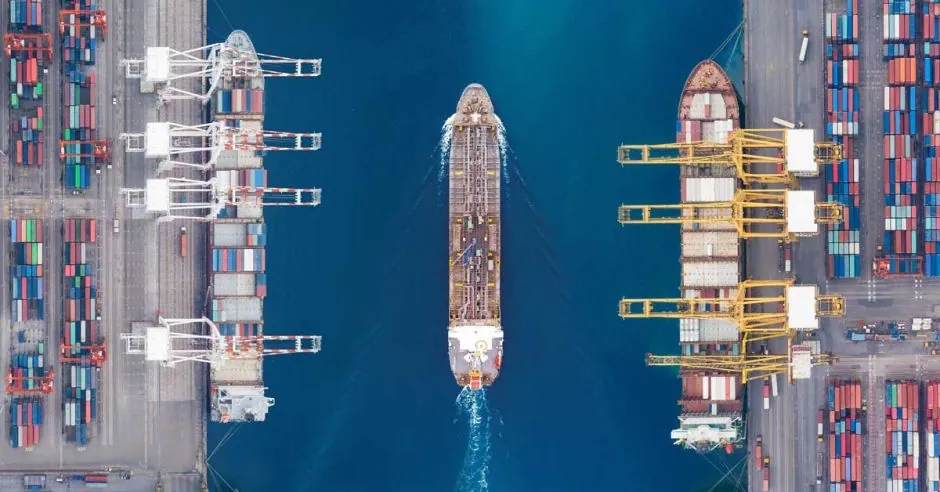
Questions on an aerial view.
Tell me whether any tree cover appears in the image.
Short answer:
No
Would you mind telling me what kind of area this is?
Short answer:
port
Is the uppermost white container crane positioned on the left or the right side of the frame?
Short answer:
left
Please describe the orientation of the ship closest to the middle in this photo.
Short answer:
vertically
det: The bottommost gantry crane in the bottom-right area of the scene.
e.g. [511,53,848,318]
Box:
[646,330,841,387]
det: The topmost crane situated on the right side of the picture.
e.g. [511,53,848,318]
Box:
[618,129,844,188]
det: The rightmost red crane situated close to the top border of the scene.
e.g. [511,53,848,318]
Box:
[60,7,114,41]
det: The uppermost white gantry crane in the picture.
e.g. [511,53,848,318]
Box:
[127,47,322,106]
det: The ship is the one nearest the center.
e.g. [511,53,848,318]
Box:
[448,82,503,390]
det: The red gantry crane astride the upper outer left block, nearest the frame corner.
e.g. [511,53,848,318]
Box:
[4,31,59,64]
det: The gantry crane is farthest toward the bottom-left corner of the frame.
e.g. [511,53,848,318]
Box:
[6,366,60,397]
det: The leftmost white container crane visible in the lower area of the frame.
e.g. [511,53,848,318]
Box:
[127,311,322,363]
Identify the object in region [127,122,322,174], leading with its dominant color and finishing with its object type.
white container crane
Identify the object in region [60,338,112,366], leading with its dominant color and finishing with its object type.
red container crane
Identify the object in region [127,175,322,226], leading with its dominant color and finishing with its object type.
white container crane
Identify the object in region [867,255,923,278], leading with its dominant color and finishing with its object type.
red container crane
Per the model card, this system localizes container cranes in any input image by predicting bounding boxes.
[127,47,322,106]
[127,311,322,363]
[867,255,923,278]
[618,129,844,188]
[618,274,844,334]
[59,136,114,163]
[6,366,60,397]
[60,338,112,366]
[60,7,114,41]
[4,31,59,64]
[127,122,322,174]
[646,330,841,387]
[127,175,322,226]
[618,185,844,246]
